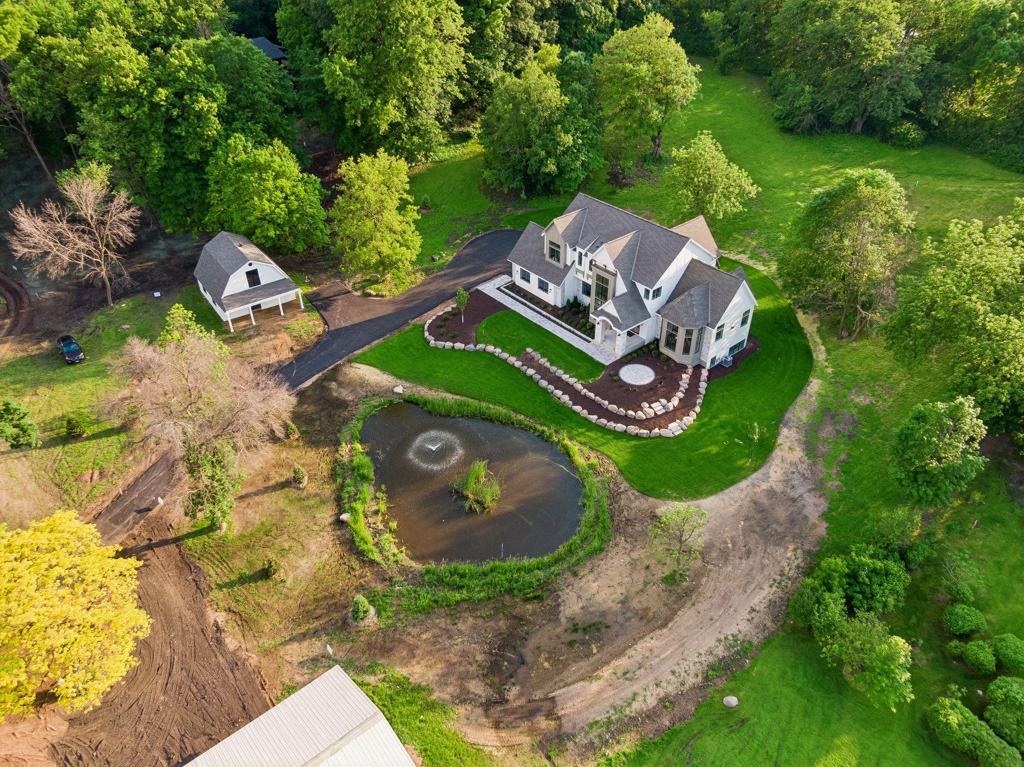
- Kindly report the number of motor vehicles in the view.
1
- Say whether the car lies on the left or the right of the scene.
left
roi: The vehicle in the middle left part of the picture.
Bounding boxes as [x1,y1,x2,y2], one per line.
[55,329,86,361]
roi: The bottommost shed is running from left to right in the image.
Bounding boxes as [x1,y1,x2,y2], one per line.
[185,664,417,767]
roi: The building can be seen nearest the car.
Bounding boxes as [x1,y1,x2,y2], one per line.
[192,230,305,332]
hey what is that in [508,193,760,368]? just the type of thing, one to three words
house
